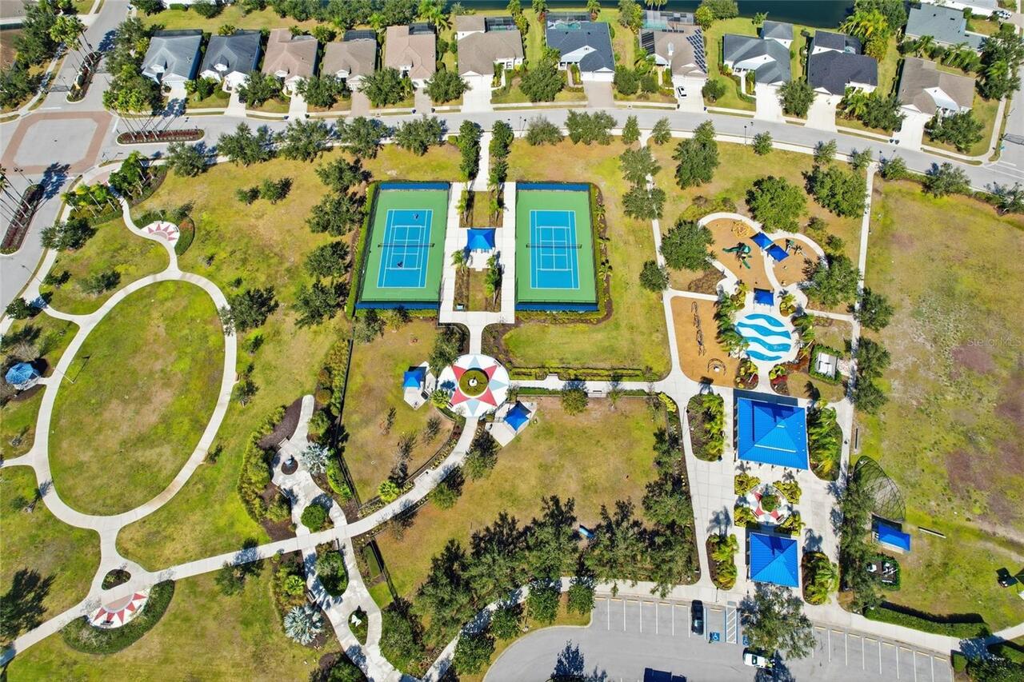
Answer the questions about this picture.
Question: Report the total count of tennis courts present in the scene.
two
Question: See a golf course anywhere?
No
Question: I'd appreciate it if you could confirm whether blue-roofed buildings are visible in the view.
Yes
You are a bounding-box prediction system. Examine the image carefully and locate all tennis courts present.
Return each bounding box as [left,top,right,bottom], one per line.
[363,190,448,298]
[516,190,598,295]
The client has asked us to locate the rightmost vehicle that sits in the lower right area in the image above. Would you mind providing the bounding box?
[741,651,778,670]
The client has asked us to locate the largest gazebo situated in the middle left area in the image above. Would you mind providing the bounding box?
[4,362,48,393]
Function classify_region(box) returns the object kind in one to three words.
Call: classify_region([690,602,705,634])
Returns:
car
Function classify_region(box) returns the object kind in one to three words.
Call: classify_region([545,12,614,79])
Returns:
house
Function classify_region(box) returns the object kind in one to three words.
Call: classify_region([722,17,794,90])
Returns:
house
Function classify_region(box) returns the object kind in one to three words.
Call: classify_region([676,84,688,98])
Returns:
vehicle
